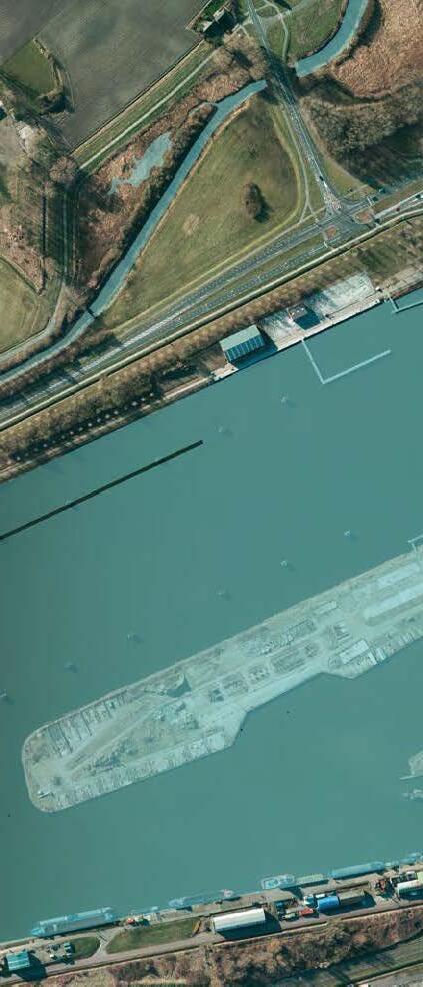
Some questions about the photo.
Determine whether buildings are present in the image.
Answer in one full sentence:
Yes, you can see a building in this photo.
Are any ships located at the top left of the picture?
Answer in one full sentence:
No, the scene shows no ship at the top left of the picture.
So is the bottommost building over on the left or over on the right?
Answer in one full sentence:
You can find the bottommost building on the left side of the picture.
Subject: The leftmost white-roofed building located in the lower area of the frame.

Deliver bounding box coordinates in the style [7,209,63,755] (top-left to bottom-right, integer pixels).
[213,909,266,932]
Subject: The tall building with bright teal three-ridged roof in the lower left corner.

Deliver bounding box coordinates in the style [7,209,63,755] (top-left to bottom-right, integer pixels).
[5,951,30,972]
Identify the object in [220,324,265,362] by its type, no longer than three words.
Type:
building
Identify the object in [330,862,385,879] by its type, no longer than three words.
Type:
ship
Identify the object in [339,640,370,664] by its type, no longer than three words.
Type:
shed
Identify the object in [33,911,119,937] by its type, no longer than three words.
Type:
ship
